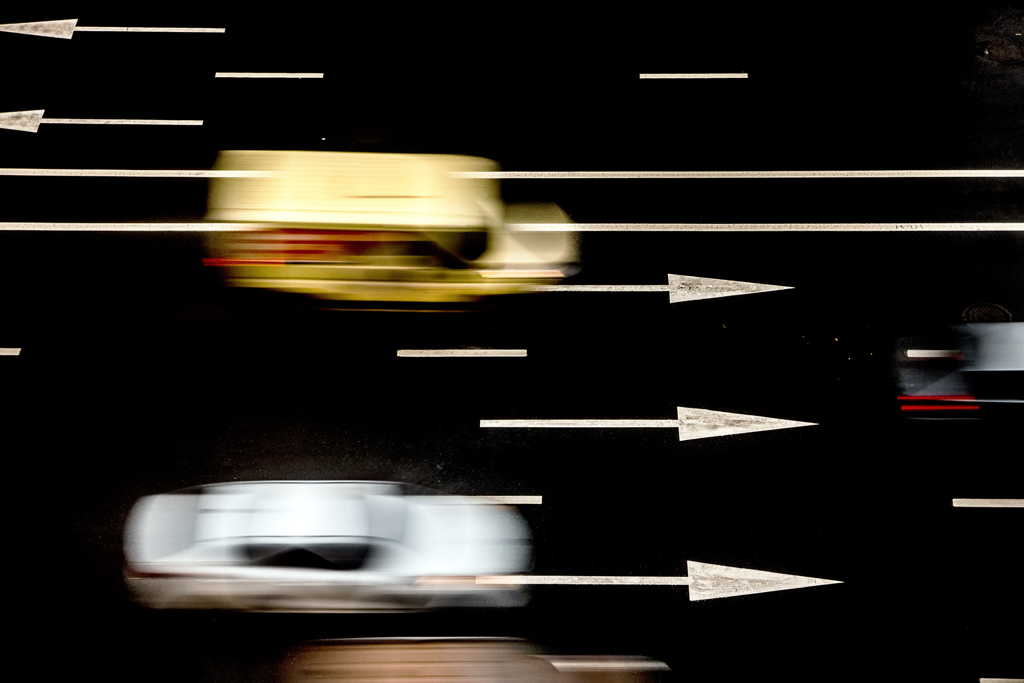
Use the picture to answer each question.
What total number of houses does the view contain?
0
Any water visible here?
No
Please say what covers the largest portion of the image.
paved ground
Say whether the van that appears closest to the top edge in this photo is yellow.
Yes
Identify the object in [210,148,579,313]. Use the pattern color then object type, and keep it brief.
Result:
yellow van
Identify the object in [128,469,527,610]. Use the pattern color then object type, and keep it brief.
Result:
white car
